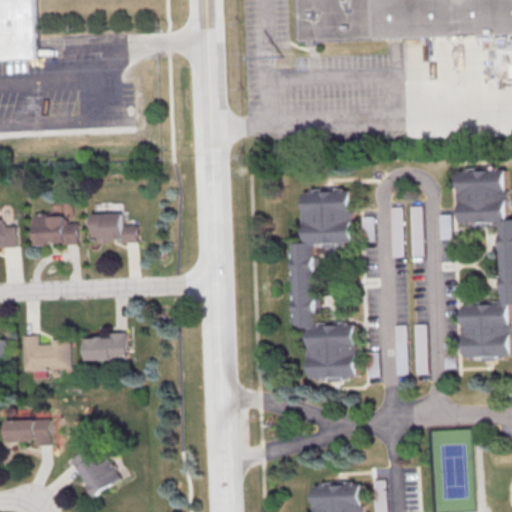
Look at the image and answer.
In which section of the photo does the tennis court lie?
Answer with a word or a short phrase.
bottom right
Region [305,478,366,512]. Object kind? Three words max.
building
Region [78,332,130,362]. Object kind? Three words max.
house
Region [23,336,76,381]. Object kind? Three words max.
house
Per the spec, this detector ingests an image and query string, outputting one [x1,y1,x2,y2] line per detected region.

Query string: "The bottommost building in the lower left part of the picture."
[72,453,124,496]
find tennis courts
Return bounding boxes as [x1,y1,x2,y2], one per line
[432,429,474,512]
